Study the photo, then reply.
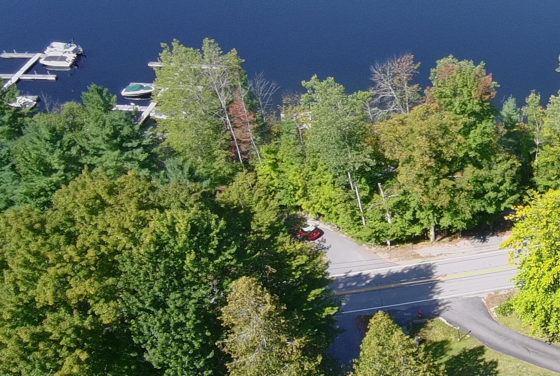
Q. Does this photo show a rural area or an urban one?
rural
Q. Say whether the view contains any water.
Yes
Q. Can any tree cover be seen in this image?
Yes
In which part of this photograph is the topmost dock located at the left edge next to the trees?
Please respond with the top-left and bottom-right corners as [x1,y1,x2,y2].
[0,45,59,85]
